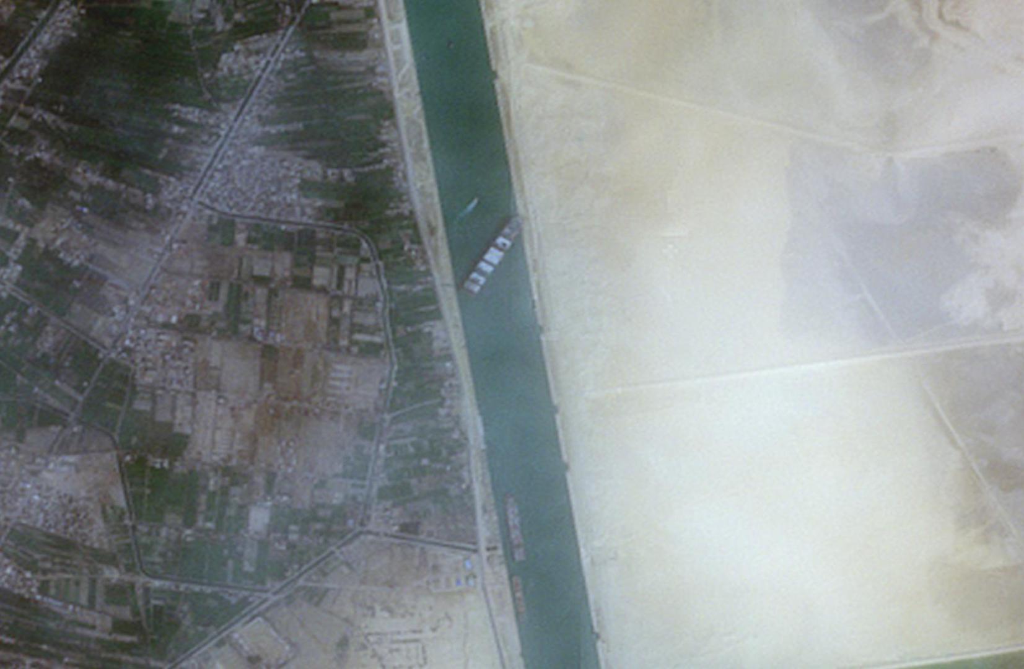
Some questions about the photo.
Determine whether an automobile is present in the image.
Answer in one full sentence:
No, no automobile is visible in the view.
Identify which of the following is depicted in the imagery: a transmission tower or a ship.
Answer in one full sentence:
Of the two, only a ship appears.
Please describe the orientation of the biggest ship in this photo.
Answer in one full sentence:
The biggest ship has been laid out on a diagonal relative to the frame.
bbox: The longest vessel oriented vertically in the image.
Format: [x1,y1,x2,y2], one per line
[507,494,525,561]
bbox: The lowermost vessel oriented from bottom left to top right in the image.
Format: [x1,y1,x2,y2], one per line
[464,219,521,296]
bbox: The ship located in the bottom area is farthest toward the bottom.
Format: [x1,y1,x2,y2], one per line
[513,576,526,618]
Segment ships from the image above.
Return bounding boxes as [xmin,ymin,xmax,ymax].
[464,219,521,296]
[513,576,526,618]
[507,494,525,561]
